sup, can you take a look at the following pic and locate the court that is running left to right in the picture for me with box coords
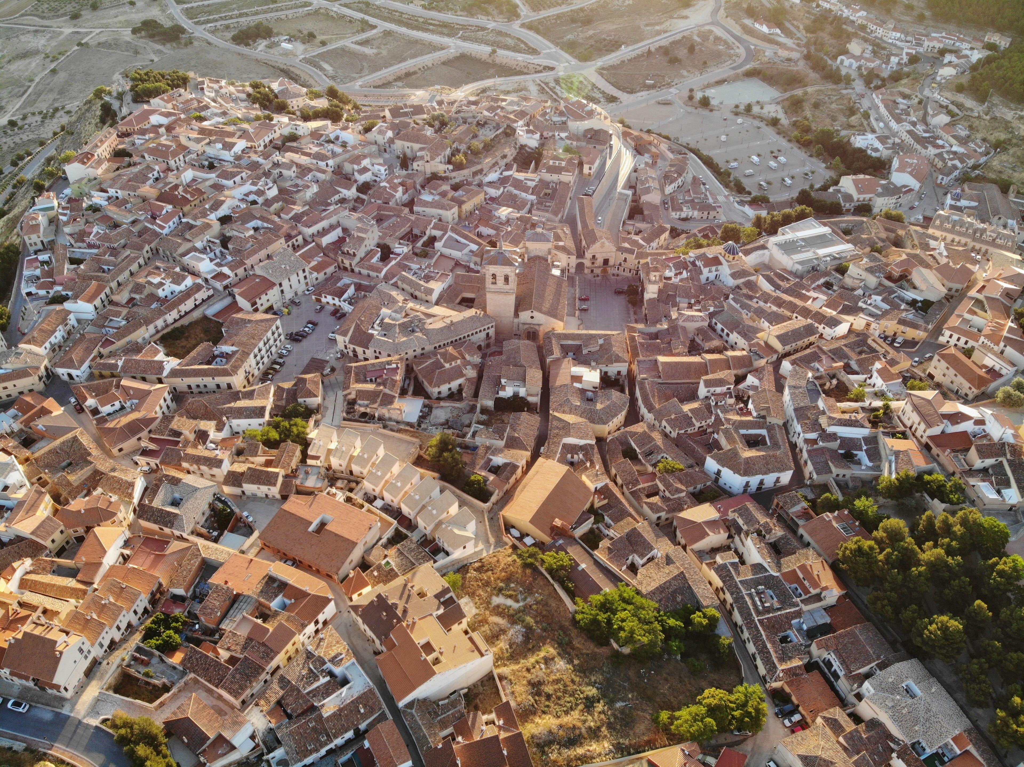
[697,77,780,106]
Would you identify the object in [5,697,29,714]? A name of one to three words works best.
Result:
car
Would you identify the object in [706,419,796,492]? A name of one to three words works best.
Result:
house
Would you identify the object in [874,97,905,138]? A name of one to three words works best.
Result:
house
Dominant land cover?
buildings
